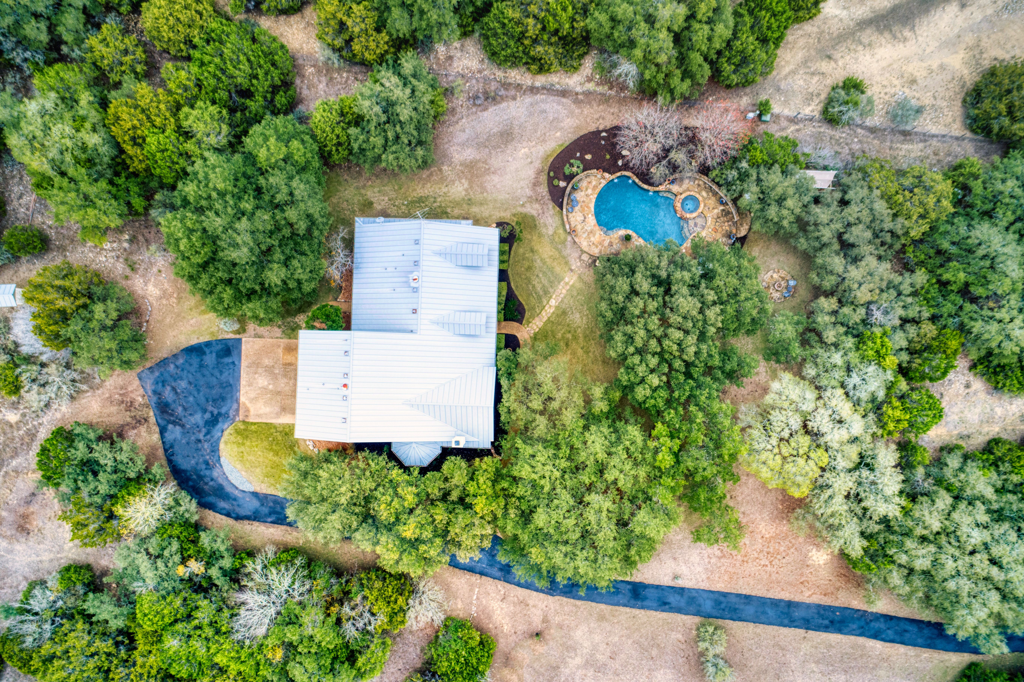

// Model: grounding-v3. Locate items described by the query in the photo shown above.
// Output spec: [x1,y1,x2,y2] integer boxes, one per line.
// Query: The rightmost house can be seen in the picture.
[294,208,502,467]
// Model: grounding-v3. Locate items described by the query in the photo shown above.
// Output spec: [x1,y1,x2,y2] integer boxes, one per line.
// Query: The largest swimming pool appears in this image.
[591,170,709,256]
